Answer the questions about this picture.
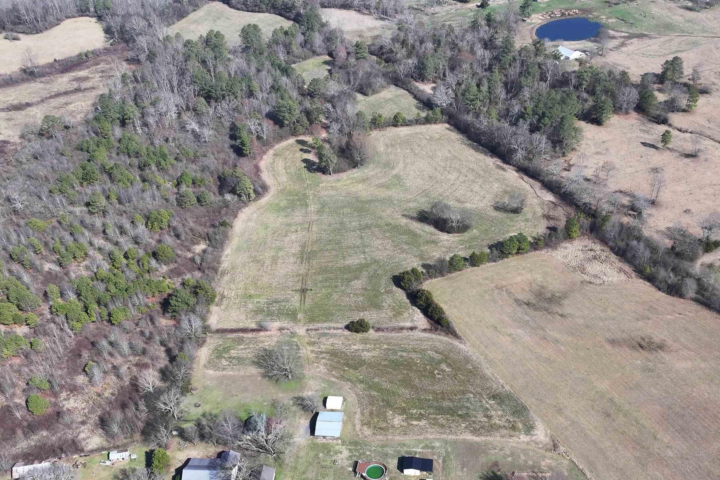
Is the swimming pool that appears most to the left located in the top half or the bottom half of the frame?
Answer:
bottom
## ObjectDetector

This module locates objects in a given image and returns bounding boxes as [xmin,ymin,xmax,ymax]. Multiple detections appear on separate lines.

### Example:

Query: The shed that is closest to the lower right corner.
[402,455,433,475]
